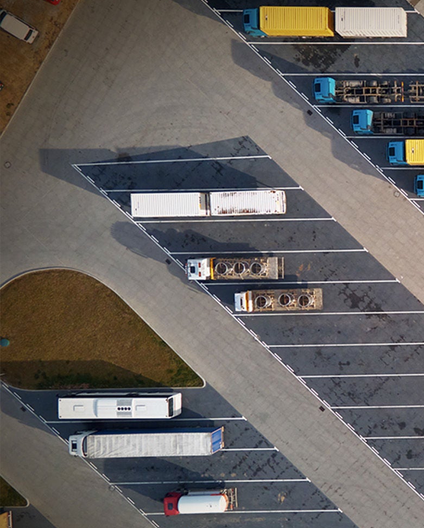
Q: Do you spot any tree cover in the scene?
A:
No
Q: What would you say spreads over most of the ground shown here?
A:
paved ground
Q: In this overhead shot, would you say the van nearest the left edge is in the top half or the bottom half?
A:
top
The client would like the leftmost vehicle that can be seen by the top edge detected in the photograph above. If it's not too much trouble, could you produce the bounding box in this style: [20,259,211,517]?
[0,10,42,45]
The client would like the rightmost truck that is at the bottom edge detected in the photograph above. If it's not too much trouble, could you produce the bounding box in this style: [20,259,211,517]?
[163,486,238,516]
